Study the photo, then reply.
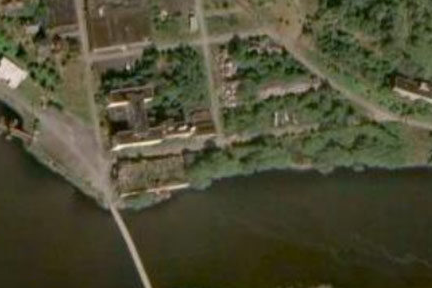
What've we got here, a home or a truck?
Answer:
home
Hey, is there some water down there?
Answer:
Yes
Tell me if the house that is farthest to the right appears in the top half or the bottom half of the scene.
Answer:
top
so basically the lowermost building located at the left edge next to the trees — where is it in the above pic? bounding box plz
[0,57,28,91]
